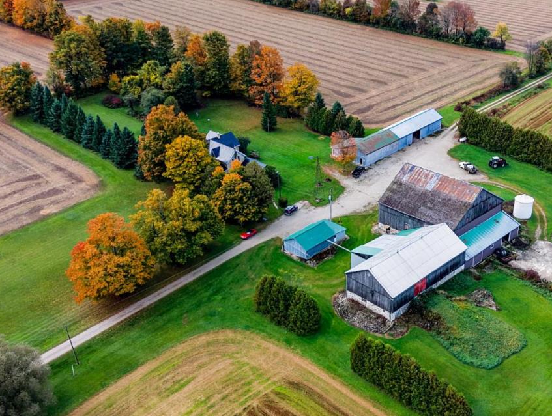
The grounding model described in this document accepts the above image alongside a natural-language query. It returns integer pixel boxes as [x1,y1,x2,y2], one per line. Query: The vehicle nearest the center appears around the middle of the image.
[281,199,301,214]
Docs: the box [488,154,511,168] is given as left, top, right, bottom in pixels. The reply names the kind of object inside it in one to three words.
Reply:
work vehicle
